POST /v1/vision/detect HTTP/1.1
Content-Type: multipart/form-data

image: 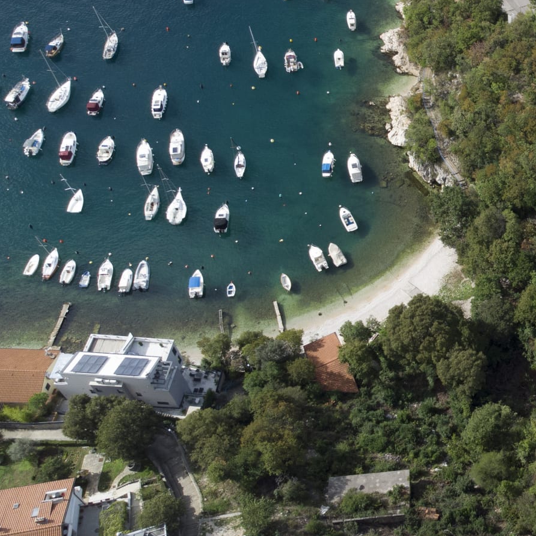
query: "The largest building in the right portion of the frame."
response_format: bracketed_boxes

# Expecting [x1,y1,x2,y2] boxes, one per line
[305,332,359,393]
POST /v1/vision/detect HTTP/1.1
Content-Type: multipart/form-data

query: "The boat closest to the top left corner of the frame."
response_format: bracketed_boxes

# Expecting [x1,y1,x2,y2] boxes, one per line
[9,20,29,55]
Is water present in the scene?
Yes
